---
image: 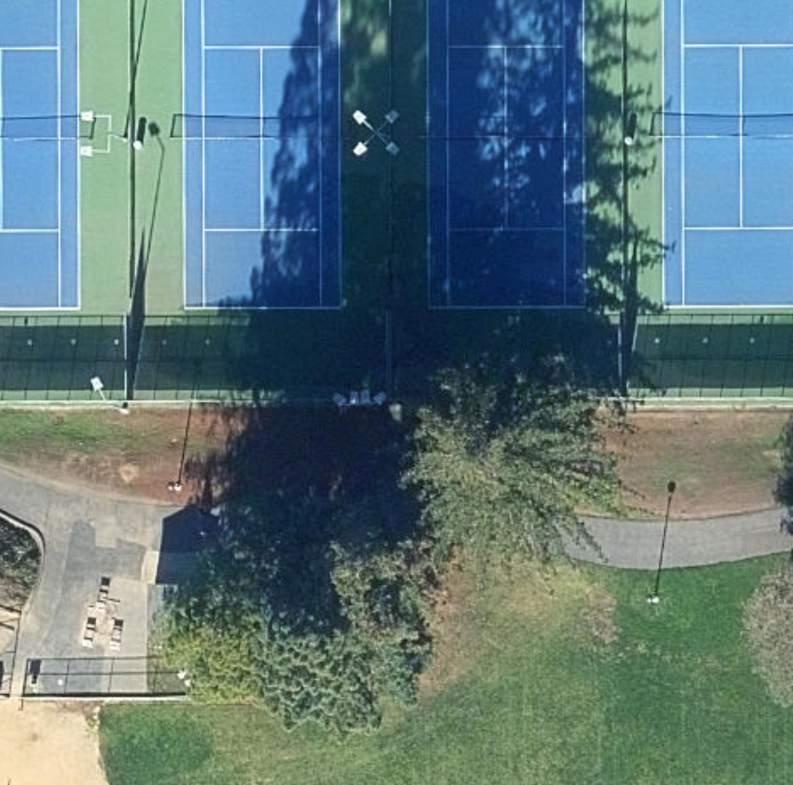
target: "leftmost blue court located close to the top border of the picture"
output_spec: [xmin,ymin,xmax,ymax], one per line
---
[0,0,80,310]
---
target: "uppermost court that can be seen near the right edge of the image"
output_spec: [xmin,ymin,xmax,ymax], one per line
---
[662,0,793,307]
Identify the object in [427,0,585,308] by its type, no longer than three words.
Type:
tennis court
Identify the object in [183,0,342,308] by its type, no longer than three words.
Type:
tennis court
